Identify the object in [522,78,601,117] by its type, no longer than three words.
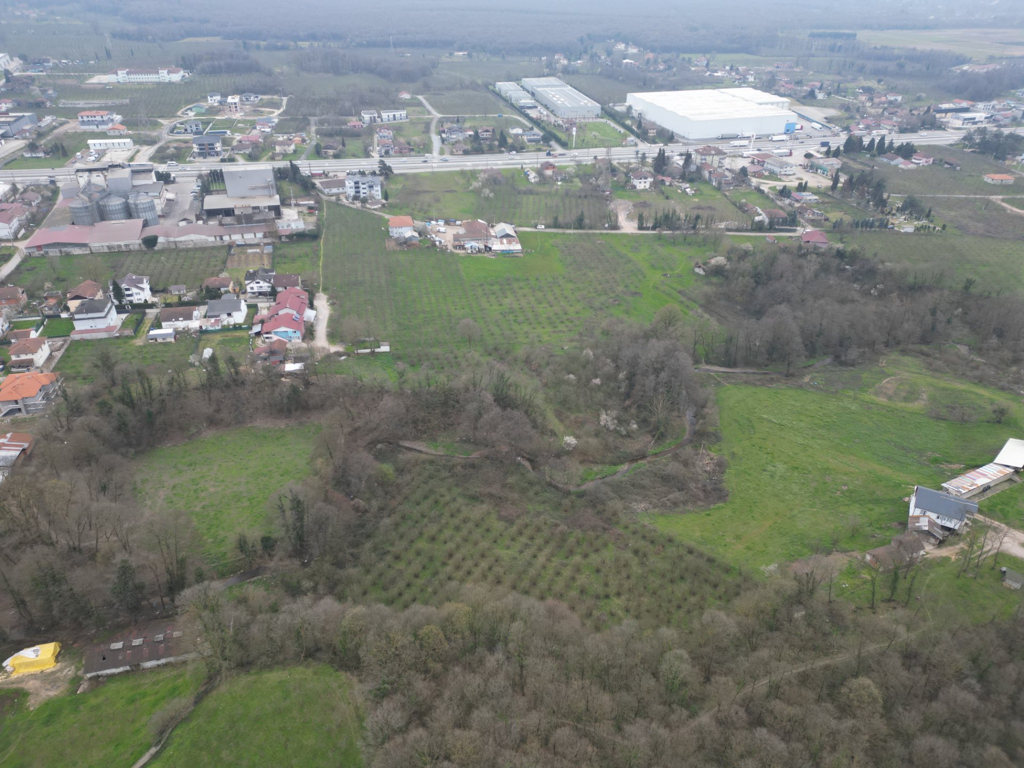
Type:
building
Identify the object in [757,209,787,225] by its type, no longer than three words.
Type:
house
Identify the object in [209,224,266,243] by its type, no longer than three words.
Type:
shed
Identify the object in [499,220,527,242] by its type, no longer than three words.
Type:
barn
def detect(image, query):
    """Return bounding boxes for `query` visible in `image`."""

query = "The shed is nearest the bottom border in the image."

[84,616,205,681]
